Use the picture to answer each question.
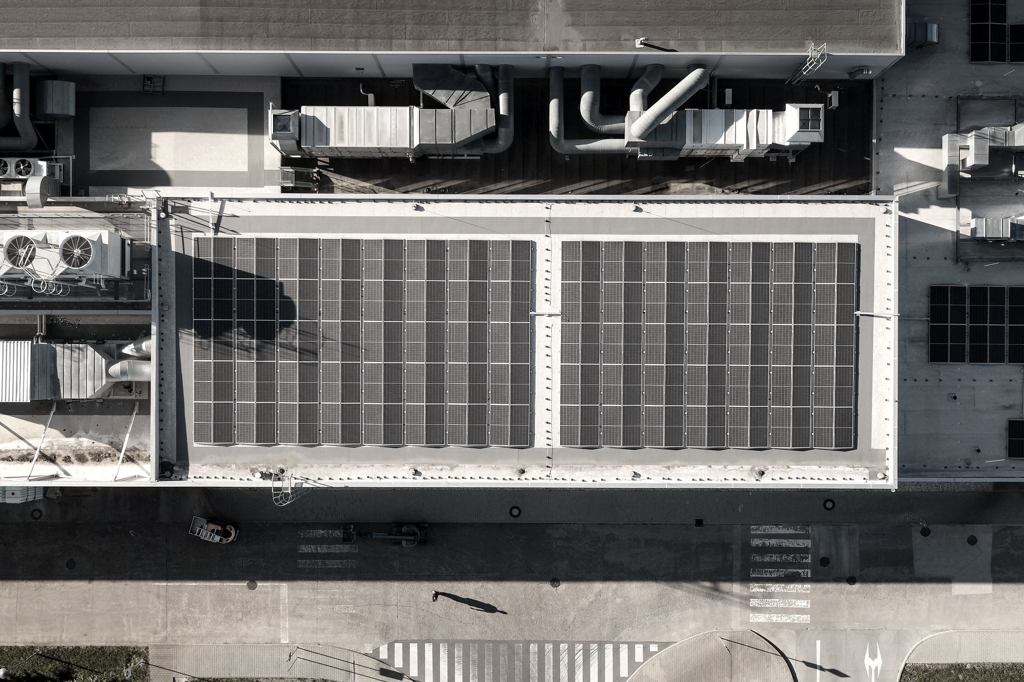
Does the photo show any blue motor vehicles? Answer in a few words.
No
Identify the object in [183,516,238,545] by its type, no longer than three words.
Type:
truck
